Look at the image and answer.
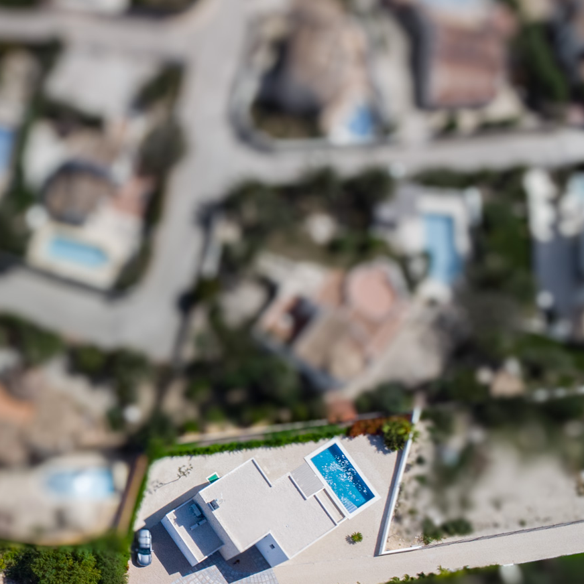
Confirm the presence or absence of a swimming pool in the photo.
Yes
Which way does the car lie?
vertically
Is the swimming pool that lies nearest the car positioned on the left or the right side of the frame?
left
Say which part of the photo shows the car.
bottom left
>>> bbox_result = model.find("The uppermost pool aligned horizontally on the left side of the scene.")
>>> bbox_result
[47,233,110,270]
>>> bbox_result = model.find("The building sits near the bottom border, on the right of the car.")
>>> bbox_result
[162,459,337,567]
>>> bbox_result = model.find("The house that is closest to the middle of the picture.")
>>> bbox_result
[266,267,402,386]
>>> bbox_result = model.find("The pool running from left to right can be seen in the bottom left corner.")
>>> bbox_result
[40,463,123,501]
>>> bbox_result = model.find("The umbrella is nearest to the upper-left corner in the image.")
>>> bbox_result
[26,208,49,229]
